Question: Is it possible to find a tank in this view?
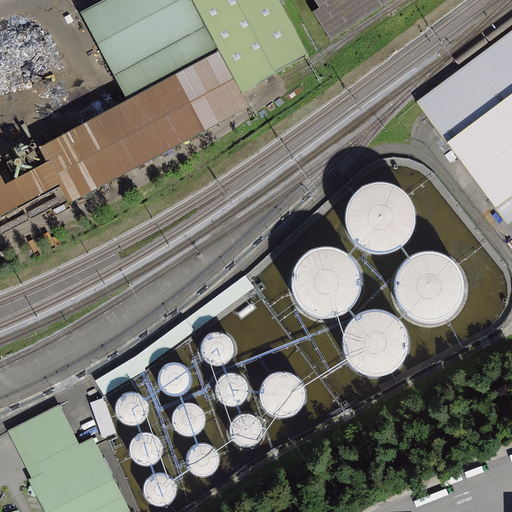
Yes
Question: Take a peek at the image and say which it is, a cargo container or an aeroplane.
cargo container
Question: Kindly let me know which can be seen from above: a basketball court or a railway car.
railway car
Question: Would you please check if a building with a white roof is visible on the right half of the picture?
Yes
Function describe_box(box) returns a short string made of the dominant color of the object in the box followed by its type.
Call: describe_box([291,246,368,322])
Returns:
white storage tank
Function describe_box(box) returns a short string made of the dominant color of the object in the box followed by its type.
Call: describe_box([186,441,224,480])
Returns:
white storage tank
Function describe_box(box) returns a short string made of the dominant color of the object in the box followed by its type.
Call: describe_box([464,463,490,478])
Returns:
white vehicle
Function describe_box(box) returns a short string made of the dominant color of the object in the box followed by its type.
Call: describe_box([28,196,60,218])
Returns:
gray rail car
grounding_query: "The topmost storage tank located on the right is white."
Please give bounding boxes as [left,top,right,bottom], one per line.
[344,182,420,258]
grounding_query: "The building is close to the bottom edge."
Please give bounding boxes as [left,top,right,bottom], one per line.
[8,405,131,512]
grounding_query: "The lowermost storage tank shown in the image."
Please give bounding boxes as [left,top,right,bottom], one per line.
[142,470,182,508]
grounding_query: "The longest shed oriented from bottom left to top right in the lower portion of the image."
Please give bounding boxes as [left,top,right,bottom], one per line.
[96,274,253,394]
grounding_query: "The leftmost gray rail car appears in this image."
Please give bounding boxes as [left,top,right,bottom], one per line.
[0,212,30,234]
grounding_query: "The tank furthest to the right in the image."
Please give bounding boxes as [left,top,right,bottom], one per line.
[392,252,470,329]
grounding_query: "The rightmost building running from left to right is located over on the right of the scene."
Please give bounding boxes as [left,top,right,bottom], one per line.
[313,0,404,41]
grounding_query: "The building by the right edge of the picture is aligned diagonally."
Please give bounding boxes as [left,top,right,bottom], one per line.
[417,32,512,142]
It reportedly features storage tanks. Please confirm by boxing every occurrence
[228,412,268,450]
[142,470,182,508]
[344,182,420,258]
[200,330,239,368]
[172,400,210,439]
[158,360,197,398]
[186,441,224,480]
[392,252,470,329]
[214,371,254,409]
[258,370,310,420]
[291,246,368,322]
[113,390,154,428]
[128,430,168,468]
[342,308,414,380]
